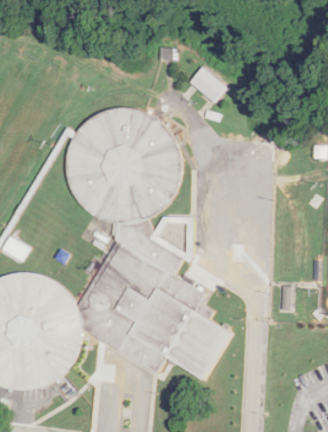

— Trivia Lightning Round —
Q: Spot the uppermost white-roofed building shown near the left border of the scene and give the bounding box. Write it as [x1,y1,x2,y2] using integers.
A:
[2,236,31,262]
